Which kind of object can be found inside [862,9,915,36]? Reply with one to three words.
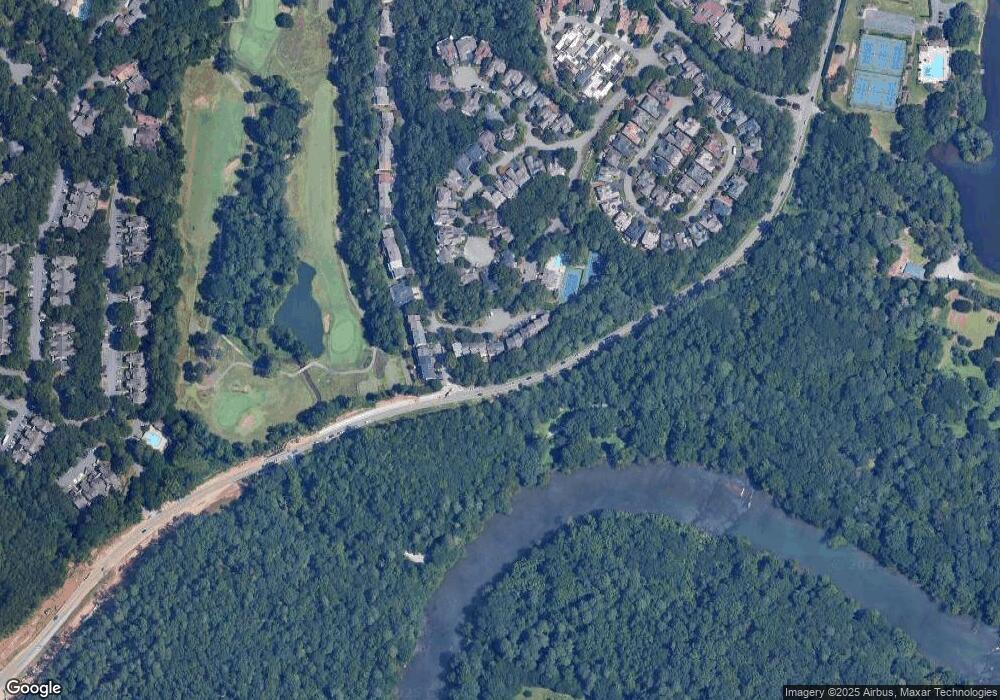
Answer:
sports court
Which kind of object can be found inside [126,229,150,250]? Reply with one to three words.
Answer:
house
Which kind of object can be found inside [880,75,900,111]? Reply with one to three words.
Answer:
tennis court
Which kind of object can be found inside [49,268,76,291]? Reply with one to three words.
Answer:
house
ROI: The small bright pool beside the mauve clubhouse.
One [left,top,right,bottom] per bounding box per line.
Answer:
[544,254,567,290]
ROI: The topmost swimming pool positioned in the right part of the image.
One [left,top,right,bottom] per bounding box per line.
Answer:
[919,46,949,83]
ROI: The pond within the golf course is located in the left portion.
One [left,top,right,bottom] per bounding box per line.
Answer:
[272,262,324,357]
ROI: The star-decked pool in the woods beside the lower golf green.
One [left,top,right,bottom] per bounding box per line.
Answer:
[142,425,166,452]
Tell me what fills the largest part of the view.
trees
